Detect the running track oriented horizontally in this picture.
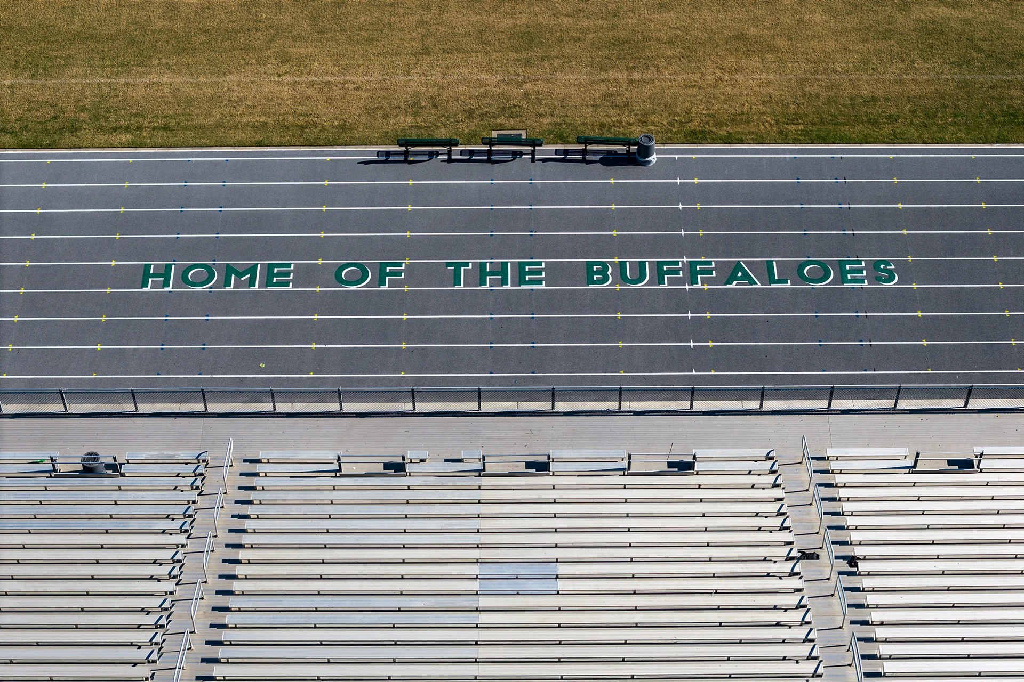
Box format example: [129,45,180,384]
[0,147,1024,404]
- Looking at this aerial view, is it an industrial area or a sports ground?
sports ground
